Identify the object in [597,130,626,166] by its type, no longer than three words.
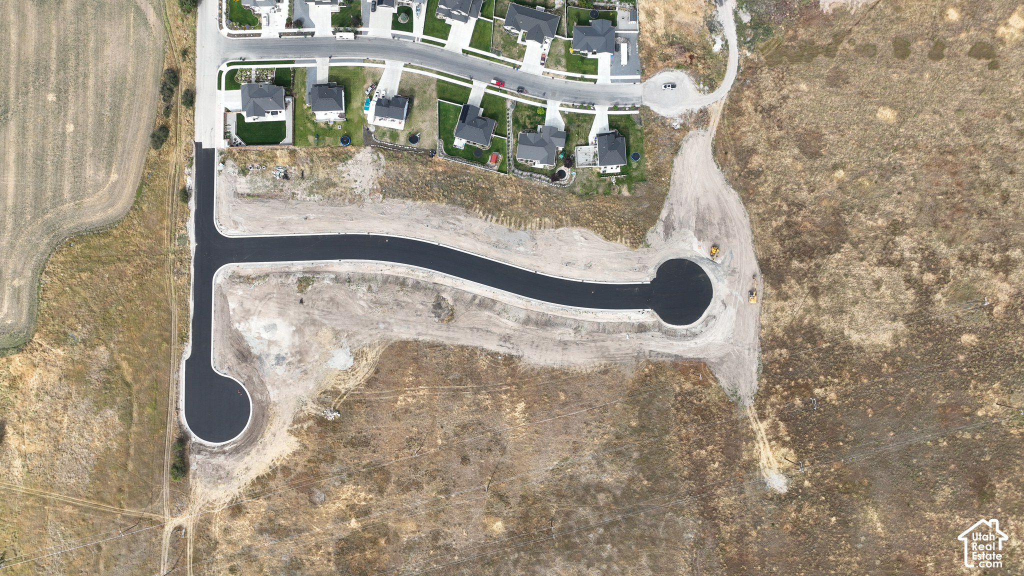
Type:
house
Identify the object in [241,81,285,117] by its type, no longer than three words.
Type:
house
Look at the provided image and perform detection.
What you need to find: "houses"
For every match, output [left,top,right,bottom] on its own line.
[503,3,560,46]
[454,101,496,147]
[597,130,626,166]
[241,81,285,117]
[374,95,409,121]
[435,0,481,24]
[310,80,345,114]
[241,0,276,8]
[516,125,567,165]
[573,16,615,57]
[377,0,413,9]
[304,0,340,7]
